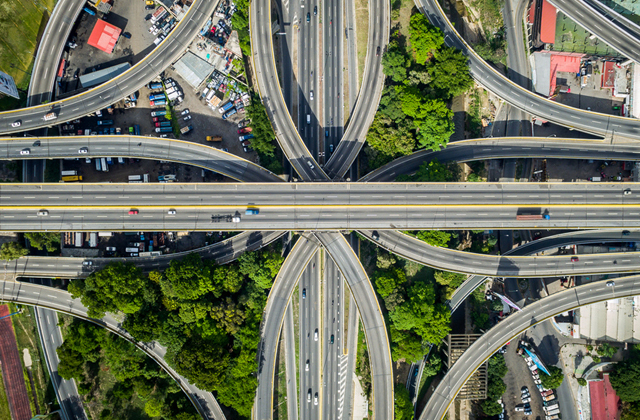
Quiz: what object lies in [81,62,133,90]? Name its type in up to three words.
shed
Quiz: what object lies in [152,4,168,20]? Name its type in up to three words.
vehicle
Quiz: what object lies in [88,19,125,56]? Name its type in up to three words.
building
